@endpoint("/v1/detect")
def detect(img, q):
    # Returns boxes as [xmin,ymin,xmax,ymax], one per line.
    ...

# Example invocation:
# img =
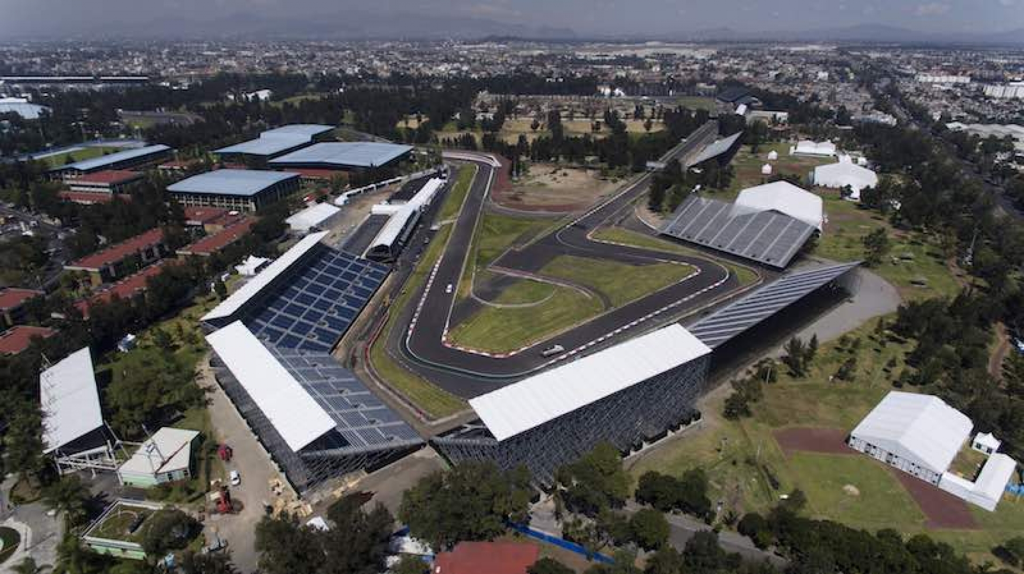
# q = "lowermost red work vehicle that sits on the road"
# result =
[213,486,233,513]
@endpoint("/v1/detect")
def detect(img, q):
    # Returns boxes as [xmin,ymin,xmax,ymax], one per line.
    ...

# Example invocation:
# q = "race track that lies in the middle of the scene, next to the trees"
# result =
[410,118,727,375]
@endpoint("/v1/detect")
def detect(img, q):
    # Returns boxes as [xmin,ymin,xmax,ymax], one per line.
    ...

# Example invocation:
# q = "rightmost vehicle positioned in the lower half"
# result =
[541,341,564,357]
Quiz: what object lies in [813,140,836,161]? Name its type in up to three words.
tent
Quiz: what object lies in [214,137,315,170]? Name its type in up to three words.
building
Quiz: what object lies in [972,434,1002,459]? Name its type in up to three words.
tent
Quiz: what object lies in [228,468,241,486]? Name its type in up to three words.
vehicle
